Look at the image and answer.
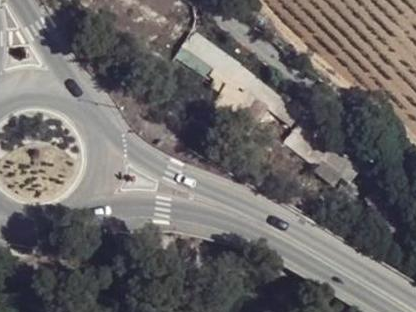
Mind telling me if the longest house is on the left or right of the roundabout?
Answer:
to its right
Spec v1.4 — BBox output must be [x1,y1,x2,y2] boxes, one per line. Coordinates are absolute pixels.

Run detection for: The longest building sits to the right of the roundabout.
[175,32,294,126]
